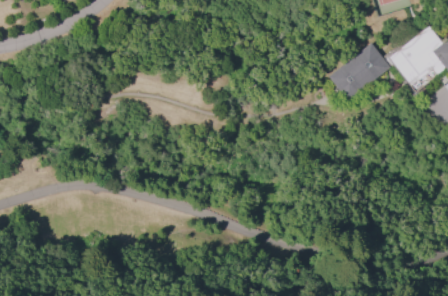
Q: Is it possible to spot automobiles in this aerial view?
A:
No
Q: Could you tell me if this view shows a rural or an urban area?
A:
rural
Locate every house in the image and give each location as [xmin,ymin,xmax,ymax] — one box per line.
[391,27,445,84]
[331,43,390,98]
